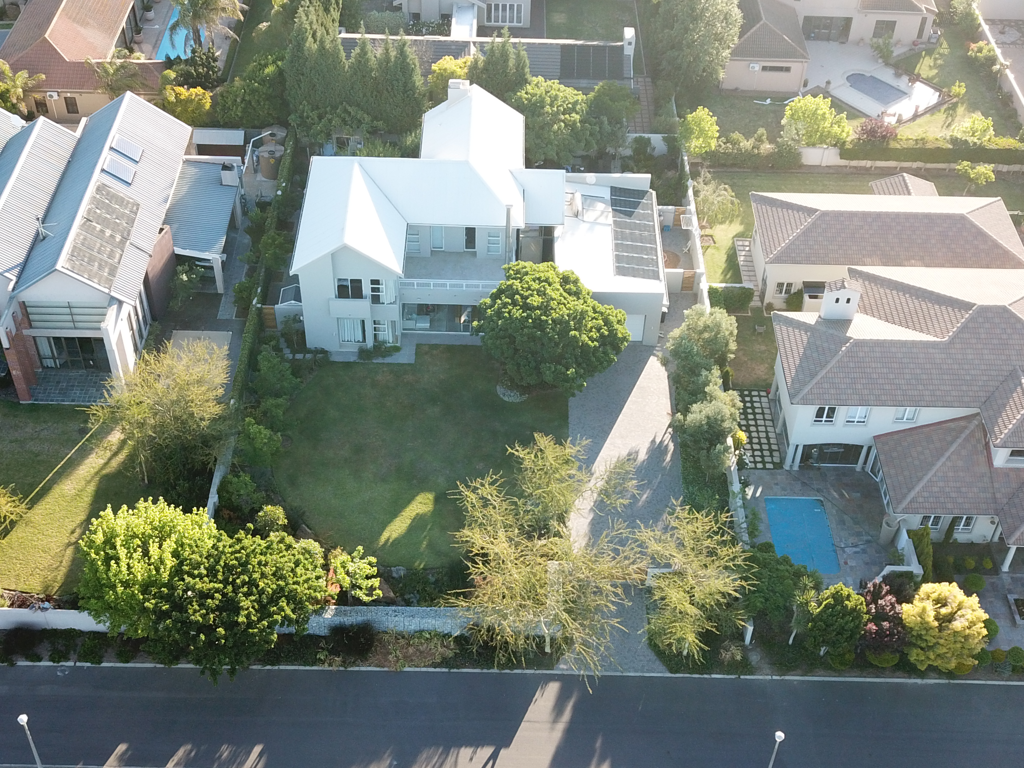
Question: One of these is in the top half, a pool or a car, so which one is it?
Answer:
pool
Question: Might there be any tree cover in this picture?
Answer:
Yes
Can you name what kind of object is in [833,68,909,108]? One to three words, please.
swimming pool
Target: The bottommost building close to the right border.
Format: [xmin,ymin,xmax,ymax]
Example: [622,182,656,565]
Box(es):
[768,264,1024,575]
